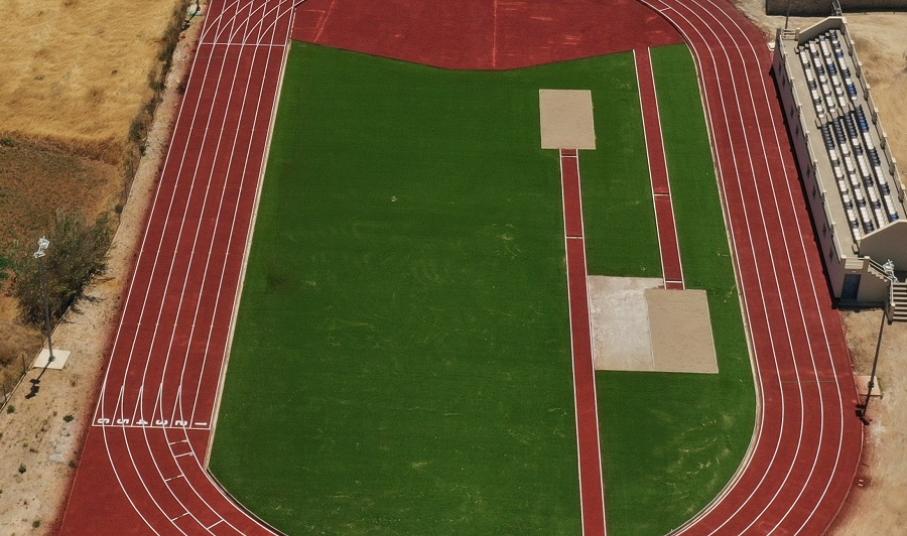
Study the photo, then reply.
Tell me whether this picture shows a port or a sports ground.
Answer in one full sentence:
The area seen from above is a sports ground.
